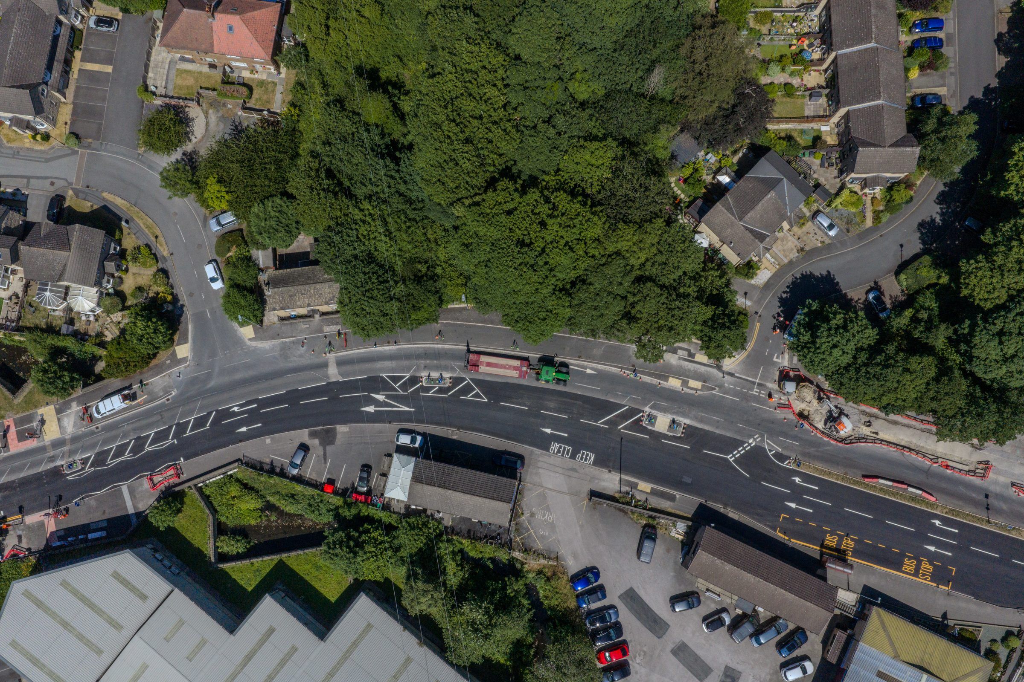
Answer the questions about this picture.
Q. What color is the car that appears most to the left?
black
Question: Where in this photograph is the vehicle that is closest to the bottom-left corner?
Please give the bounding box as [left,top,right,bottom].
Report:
[94,391,139,417]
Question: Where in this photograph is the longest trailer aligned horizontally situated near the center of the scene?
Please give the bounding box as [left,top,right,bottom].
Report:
[464,353,538,379]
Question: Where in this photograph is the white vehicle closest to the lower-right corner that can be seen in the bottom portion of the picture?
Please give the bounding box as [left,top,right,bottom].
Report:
[779,658,815,682]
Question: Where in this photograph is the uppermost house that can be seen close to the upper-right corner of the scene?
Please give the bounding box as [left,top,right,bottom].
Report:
[816,0,899,64]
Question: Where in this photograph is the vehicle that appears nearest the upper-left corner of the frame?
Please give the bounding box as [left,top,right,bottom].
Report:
[88,14,121,34]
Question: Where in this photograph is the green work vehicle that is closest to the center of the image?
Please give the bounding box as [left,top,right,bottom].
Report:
[534,363,570,384]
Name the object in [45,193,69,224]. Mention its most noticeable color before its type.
black car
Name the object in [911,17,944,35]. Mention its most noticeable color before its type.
blue car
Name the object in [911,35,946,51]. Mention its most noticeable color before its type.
blue car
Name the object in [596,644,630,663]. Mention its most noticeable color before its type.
red car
